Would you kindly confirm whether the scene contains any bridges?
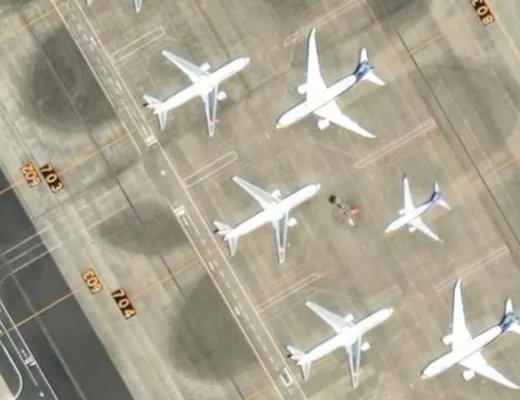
No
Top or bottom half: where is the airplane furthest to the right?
bottom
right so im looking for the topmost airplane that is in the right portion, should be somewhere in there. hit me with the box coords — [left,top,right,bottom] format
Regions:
[277,29,386,136]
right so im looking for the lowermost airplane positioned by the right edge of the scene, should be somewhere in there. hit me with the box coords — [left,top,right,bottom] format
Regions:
[422,278,520,387]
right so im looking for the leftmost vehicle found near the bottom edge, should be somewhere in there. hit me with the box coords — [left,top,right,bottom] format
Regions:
[279,369,292,385]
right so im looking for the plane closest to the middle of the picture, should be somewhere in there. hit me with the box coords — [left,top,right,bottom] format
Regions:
[215,178,320,262]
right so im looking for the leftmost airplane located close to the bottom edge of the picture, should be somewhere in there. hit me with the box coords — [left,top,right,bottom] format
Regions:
[286,302,393,387]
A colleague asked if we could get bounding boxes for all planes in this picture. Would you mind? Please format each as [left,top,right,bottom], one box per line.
[144,52,249,134]
[286,302,393,387]
[215,178,320,262]
[422,278,520,387]
[386,173,452,239]
[277,29,386,136]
